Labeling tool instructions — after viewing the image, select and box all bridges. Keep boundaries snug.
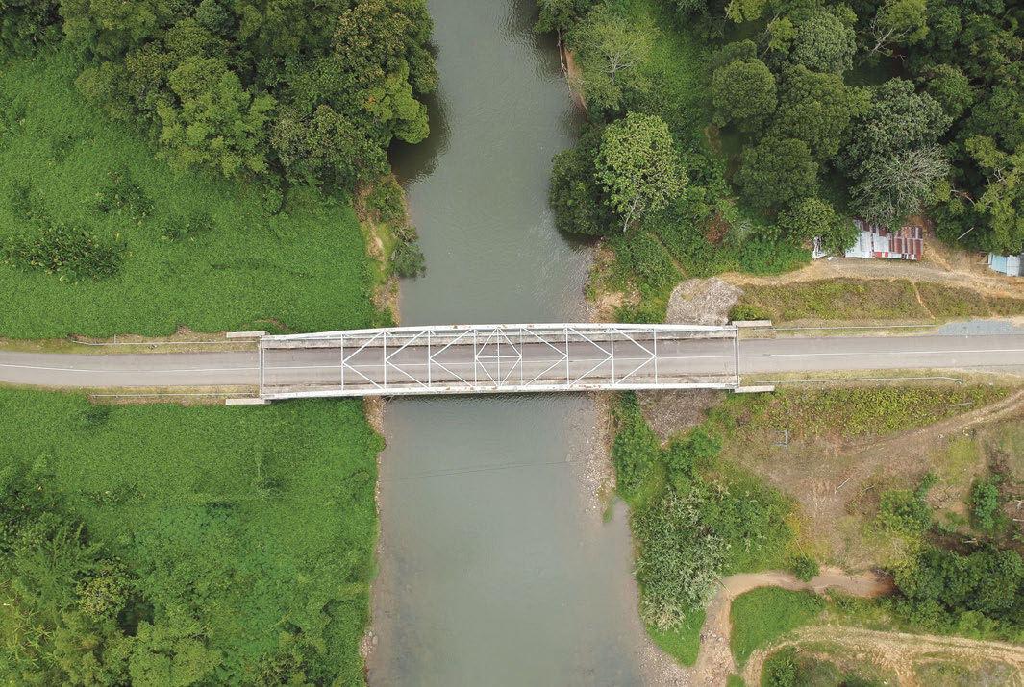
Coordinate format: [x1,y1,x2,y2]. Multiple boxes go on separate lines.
[224,321,775,403]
